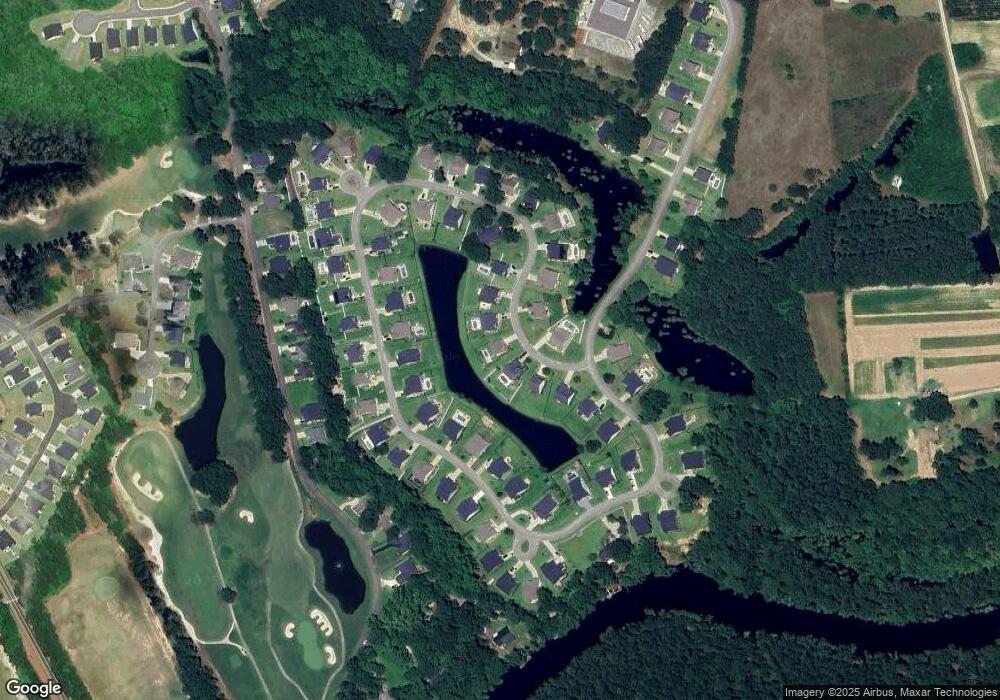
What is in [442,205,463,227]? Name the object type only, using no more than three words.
house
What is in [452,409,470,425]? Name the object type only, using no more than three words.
swimming pool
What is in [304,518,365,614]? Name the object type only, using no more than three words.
pond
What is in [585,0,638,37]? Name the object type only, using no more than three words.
building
